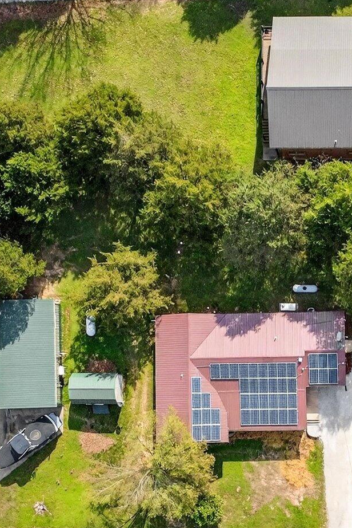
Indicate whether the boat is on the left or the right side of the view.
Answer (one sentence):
You can find the boat on the left side of the picture.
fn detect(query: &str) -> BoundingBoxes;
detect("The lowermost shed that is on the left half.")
[67,372,125,413]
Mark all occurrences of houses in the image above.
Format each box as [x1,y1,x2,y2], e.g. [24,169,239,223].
[155,312,345,442]
[267,16,352,159]
[0,299,66,409]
